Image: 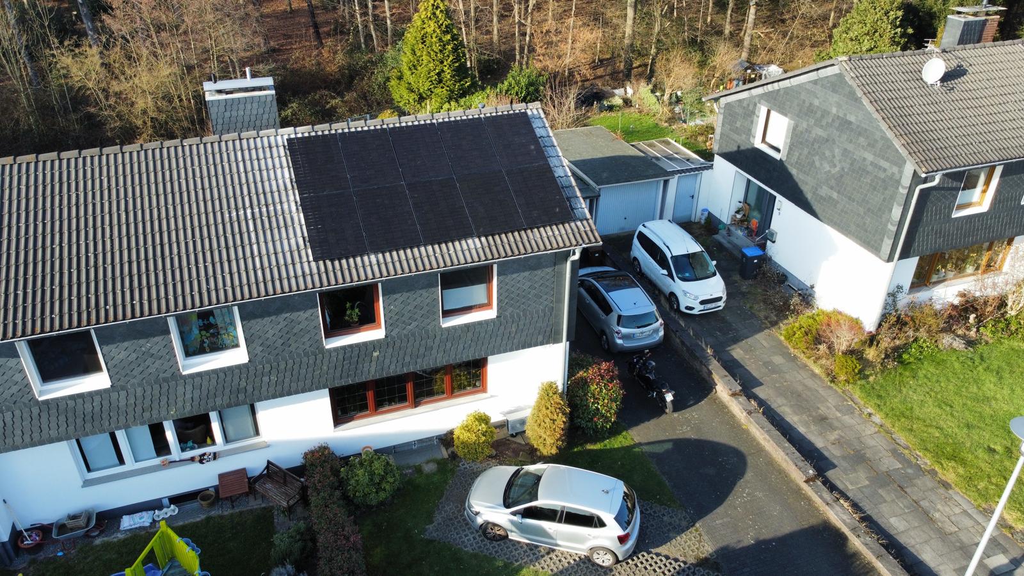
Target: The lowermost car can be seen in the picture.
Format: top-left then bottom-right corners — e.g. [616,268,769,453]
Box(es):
[465,457,644,567]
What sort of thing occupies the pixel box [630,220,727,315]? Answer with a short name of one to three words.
van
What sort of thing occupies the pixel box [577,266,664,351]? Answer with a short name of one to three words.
car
